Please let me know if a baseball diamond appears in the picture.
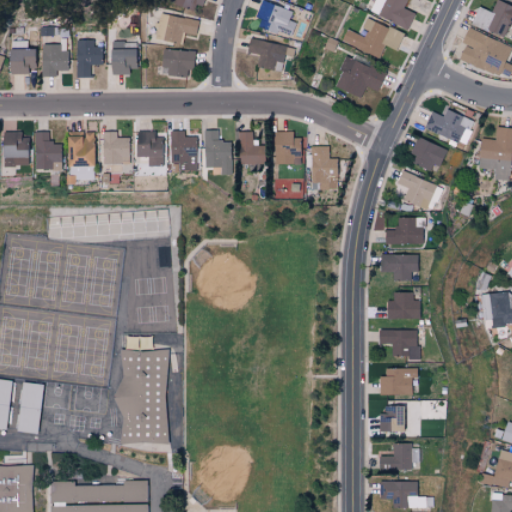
Yes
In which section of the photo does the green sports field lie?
bottom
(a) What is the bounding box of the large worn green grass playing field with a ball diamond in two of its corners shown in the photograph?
[189,240,313,512]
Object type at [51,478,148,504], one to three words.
building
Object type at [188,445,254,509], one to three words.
baseball field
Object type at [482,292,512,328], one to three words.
house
